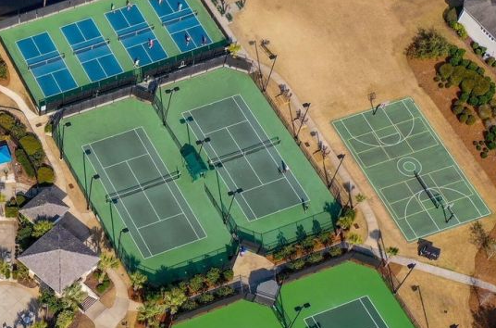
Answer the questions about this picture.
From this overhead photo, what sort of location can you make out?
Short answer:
sports ground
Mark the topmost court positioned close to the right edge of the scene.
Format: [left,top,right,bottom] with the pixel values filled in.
[330,94,496,242]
